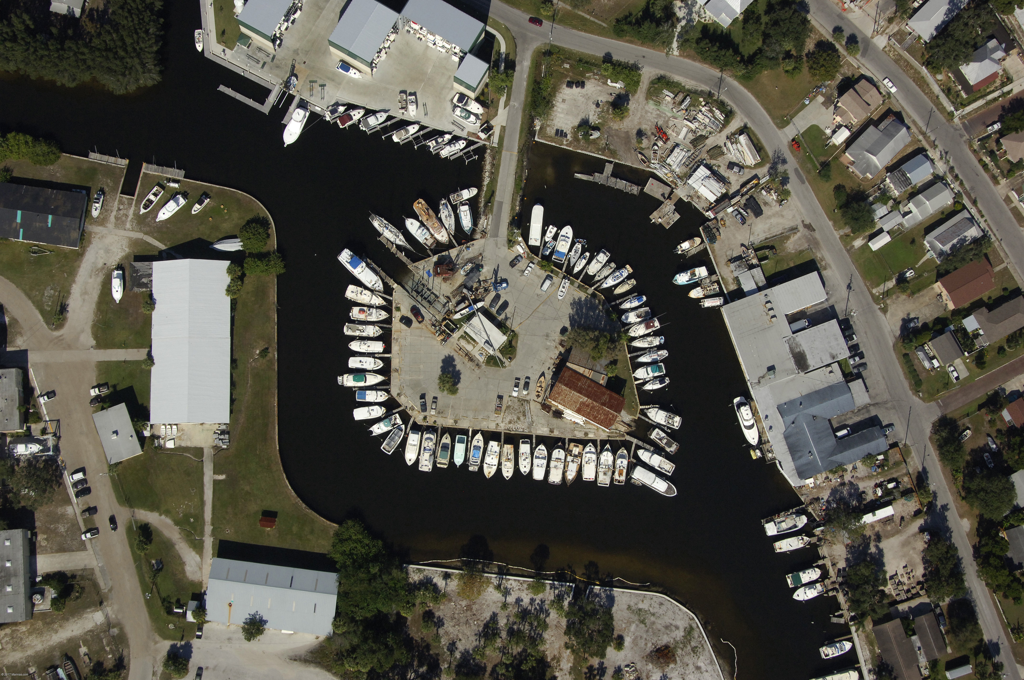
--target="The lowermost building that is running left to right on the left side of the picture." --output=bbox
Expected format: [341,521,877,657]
[206,558,339,635]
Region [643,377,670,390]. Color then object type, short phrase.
white boat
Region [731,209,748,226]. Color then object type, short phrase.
gray vehicle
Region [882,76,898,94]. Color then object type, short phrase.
white car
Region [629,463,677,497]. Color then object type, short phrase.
white boat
